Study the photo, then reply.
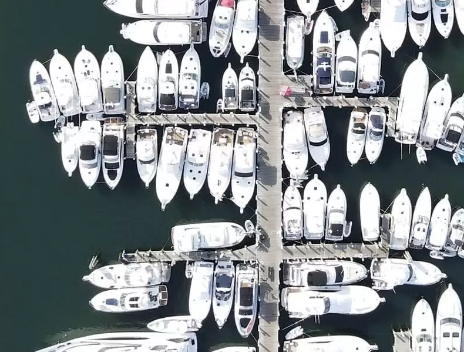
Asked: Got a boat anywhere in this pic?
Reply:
Yes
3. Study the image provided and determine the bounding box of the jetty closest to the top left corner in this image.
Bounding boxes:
[126,81,257,159]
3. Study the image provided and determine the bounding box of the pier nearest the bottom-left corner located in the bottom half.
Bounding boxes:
[119,243,257,264]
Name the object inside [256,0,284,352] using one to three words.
pier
